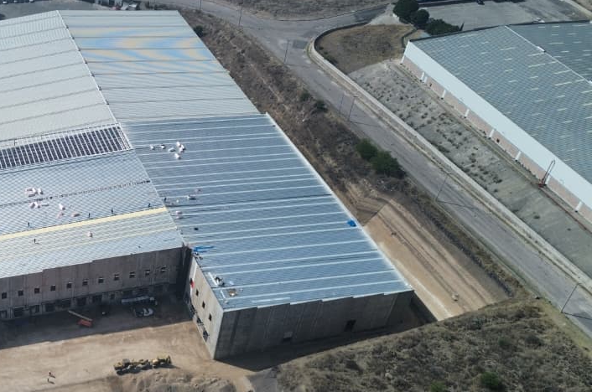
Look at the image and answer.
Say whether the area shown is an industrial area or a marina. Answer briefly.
industrial area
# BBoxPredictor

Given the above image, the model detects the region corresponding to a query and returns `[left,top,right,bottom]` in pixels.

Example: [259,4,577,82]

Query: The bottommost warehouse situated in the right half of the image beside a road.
[398,20,592,225]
